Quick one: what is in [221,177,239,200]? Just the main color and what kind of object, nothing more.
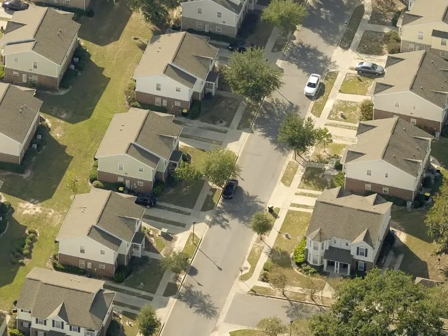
black car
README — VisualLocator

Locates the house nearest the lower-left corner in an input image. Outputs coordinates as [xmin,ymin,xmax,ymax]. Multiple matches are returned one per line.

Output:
[14,267,117,336]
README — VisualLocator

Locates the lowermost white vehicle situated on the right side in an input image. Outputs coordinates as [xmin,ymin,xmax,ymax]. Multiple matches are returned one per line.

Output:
[305,75,321,97]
